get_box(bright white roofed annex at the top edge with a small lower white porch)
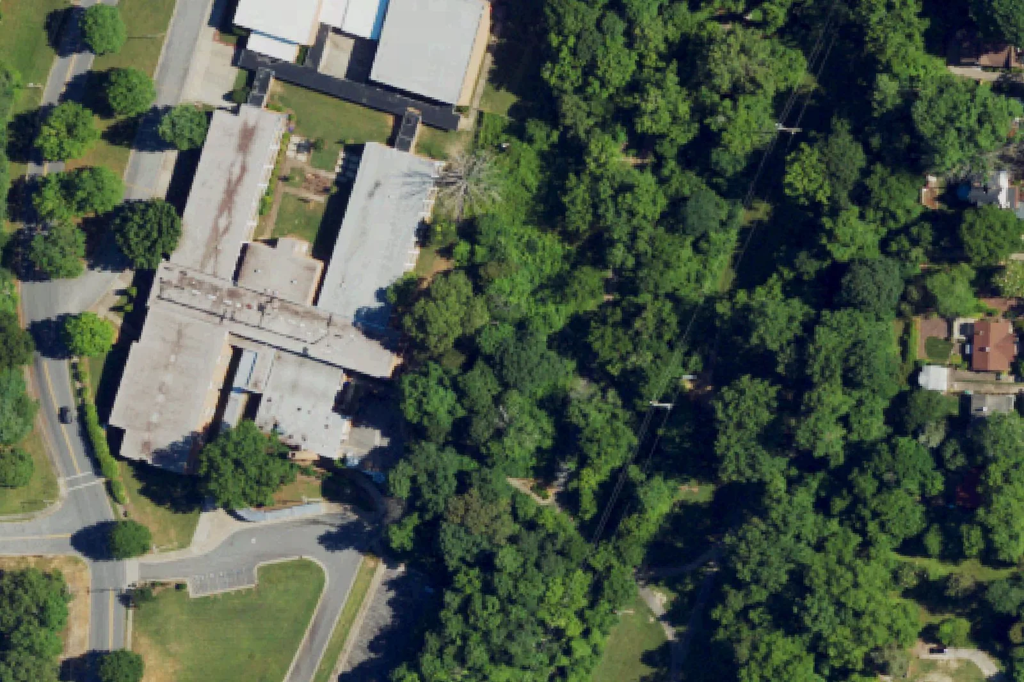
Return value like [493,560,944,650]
[234,0,322,62]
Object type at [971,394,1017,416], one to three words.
house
